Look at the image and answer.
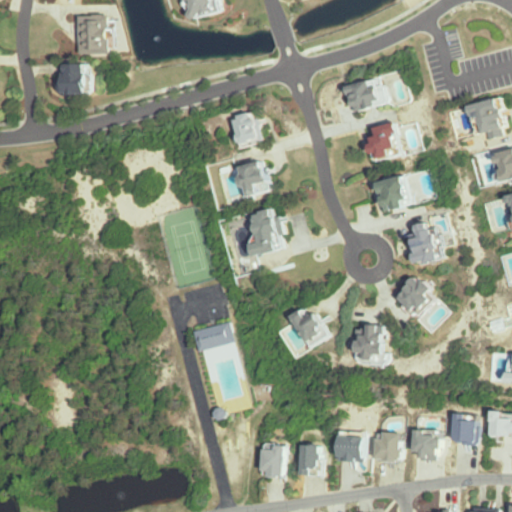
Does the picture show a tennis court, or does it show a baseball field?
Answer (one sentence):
The image shows a tennis court.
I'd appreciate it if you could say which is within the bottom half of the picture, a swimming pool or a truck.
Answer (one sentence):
You can see a swimming pool within the bottom half of the picture.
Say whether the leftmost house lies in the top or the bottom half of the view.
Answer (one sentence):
It is in the top half that the leftmost house appears.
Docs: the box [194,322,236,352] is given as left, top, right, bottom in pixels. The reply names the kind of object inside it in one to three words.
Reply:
building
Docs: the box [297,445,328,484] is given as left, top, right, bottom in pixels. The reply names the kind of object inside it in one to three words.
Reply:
house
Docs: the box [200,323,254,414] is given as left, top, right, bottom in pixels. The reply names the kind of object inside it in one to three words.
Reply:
swimming pool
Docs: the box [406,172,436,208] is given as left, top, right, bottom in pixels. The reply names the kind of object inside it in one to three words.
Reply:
swimming pool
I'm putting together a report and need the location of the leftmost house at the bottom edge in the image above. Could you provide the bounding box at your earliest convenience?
[259,443,290,486]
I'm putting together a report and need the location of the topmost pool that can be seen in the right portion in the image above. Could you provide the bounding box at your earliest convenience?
[382,72,413,106]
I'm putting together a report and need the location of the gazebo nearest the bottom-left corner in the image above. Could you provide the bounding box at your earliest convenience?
[212,405,228,422]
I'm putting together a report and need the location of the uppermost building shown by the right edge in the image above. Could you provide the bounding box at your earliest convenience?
[464,96,511,140]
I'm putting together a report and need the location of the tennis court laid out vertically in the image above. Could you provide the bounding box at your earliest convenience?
[164,208,210,288]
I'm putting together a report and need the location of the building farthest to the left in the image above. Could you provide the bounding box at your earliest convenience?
[54,62,94,95]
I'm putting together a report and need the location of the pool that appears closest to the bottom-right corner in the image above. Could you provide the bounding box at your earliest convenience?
[418,417,446,432]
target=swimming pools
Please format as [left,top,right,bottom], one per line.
[382,72,413,106]
[474,152,512,188]
[430,213,455,259]
[492,352,509,383]
[418,299,452,334]
[220,166,242,204]
[382,416,406,432]
[200,323,254,414]
[485,200,512,234]
[400,122,422,154]
[500,253,512,286]
[280,324,310,359]
[418,417,446,432]
[406,172,436,208]
[450,110,472,138]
